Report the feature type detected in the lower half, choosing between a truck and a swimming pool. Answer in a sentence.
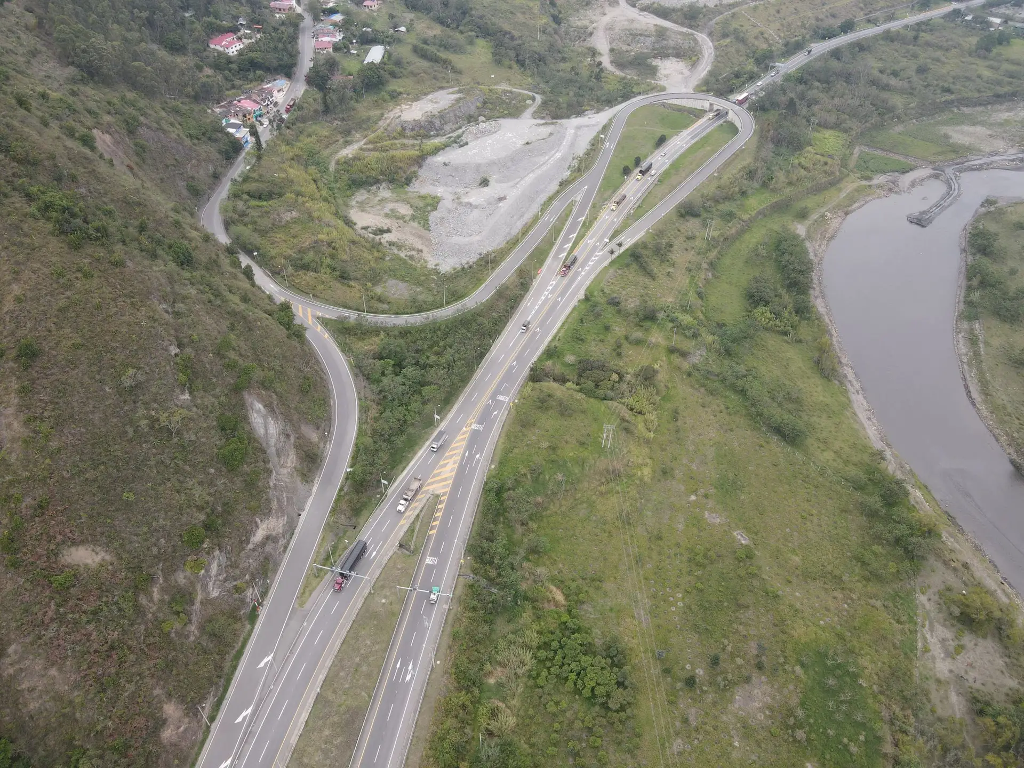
Visible in the lower half is a truck.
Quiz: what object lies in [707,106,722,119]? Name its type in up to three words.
vehicle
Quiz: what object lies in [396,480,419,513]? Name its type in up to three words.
truck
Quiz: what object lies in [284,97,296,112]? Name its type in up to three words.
vehicle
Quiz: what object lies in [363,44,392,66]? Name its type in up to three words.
shed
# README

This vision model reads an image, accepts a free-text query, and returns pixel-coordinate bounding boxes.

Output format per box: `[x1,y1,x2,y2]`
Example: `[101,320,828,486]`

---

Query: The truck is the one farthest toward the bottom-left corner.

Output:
[333,540,366,592]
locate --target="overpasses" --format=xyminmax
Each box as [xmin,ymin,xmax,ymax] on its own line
[638,99,741,130]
